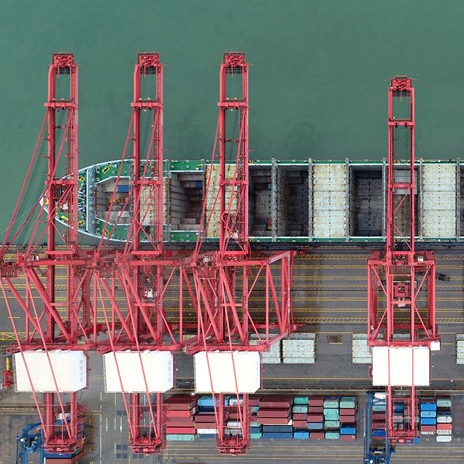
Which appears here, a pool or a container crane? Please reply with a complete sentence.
I can see a container crane in this picture.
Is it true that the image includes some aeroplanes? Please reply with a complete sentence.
No, the scene contains no aeroplane.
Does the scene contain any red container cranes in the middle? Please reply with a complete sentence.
Yes, you'll find a red container crane in the middle.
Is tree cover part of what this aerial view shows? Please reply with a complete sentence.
No, there is no tree cover in the image.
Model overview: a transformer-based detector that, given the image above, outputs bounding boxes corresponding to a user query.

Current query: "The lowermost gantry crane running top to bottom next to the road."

[362,391,395,464]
